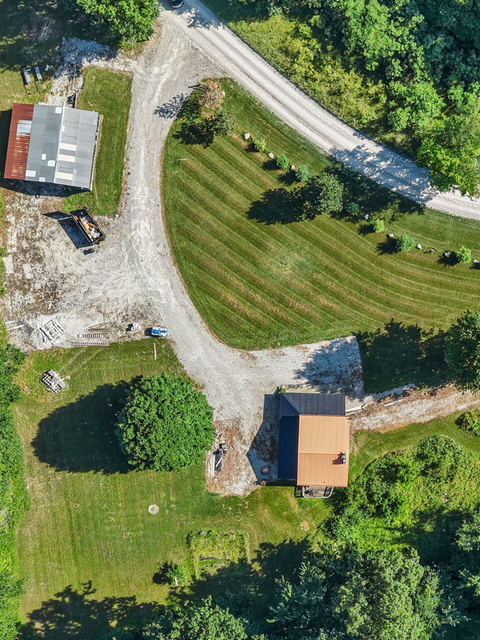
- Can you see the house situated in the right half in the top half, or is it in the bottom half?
bottom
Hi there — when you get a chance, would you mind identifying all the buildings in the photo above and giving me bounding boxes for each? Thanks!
[5,103,102,190]
[277,392,349,487]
